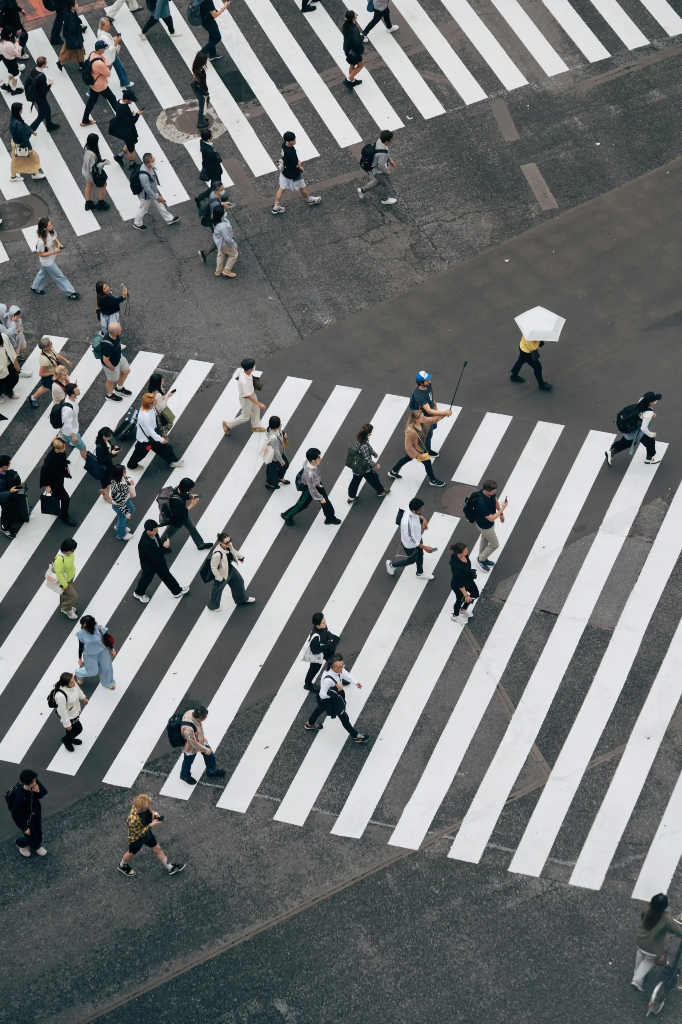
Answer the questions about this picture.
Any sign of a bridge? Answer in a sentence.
No, the scene contains no bridge.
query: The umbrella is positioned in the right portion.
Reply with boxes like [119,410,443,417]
[514,306,566,342]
